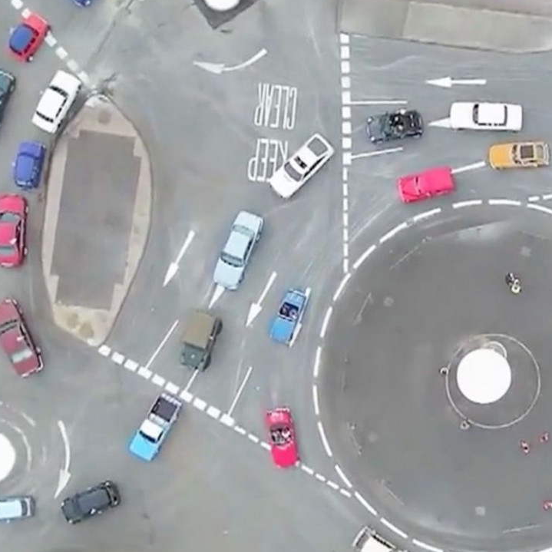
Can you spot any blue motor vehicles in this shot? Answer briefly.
Yes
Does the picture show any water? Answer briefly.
No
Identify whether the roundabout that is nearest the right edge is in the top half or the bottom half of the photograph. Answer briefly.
bottom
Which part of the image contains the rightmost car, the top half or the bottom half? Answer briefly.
top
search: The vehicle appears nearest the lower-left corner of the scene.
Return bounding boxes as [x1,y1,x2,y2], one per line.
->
[0,495,37,521]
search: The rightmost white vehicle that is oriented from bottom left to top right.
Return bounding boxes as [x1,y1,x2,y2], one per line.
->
[270,134,334,199]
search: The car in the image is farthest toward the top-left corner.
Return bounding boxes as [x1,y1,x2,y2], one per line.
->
[6,14,51,64]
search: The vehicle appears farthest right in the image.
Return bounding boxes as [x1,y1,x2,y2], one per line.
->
[489,136,550,168]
